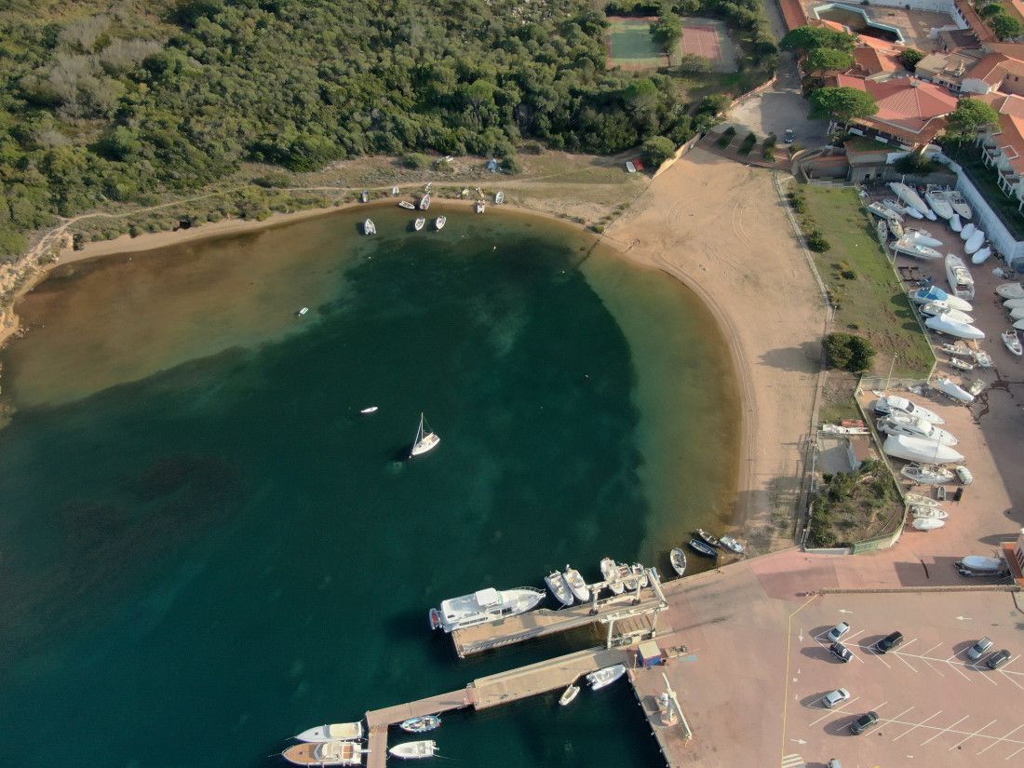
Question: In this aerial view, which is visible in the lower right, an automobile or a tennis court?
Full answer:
You can see an automobile in the lower right.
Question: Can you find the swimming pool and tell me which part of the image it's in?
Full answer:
You can find the swimming pool in the top right area of the picture.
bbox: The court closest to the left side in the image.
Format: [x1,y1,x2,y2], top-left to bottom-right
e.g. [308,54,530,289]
[606,8,671,72]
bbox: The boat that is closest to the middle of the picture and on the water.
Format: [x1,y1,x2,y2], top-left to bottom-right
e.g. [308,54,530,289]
[412,415,441,456]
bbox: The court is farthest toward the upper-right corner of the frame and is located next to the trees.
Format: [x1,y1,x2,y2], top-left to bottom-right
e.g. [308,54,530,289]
[680,7,740,73]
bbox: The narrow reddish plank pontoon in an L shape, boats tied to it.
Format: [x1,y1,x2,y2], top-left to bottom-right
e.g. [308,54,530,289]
[365,689,474,768]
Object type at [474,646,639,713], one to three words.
pier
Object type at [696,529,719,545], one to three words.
boat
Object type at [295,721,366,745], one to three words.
boat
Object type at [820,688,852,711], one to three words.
car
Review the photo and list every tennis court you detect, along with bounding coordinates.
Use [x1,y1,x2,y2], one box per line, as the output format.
[606,8,671,72]
[680,7,740,73]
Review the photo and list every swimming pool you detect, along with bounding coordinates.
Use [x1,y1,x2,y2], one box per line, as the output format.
[813,3,906,45]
